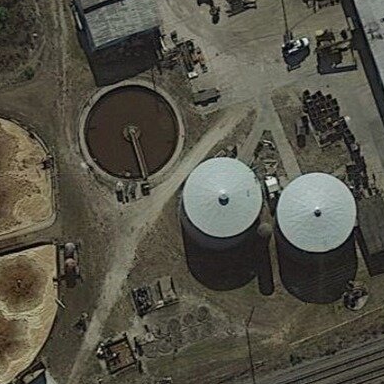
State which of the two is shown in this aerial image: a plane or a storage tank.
storage tank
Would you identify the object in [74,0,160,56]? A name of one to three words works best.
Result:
shed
